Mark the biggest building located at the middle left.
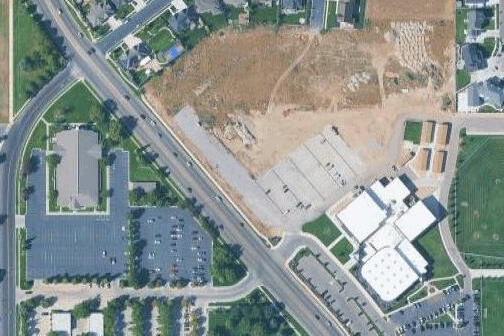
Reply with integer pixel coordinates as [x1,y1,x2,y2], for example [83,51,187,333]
[53,127,101,211]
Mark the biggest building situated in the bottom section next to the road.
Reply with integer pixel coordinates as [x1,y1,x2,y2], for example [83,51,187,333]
[337,177,436,302]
